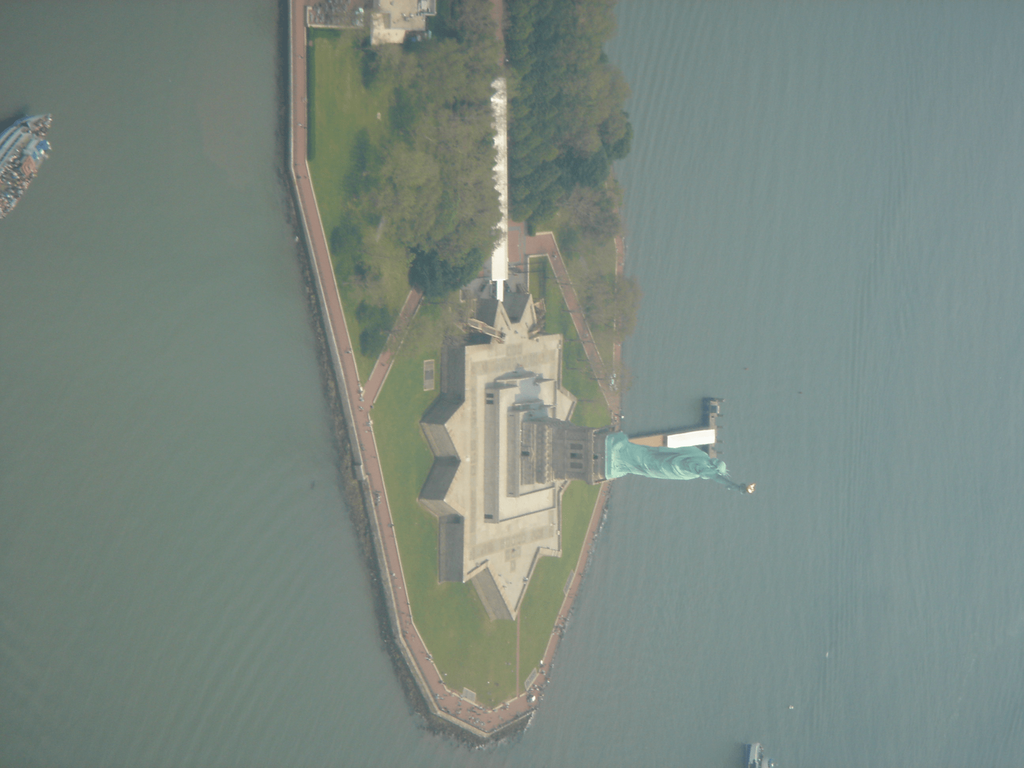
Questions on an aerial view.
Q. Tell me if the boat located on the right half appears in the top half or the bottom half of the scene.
bottom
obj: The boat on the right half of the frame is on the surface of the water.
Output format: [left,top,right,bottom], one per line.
[746,739,768,768]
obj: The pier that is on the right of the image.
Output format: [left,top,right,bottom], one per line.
[662,397,726,460]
